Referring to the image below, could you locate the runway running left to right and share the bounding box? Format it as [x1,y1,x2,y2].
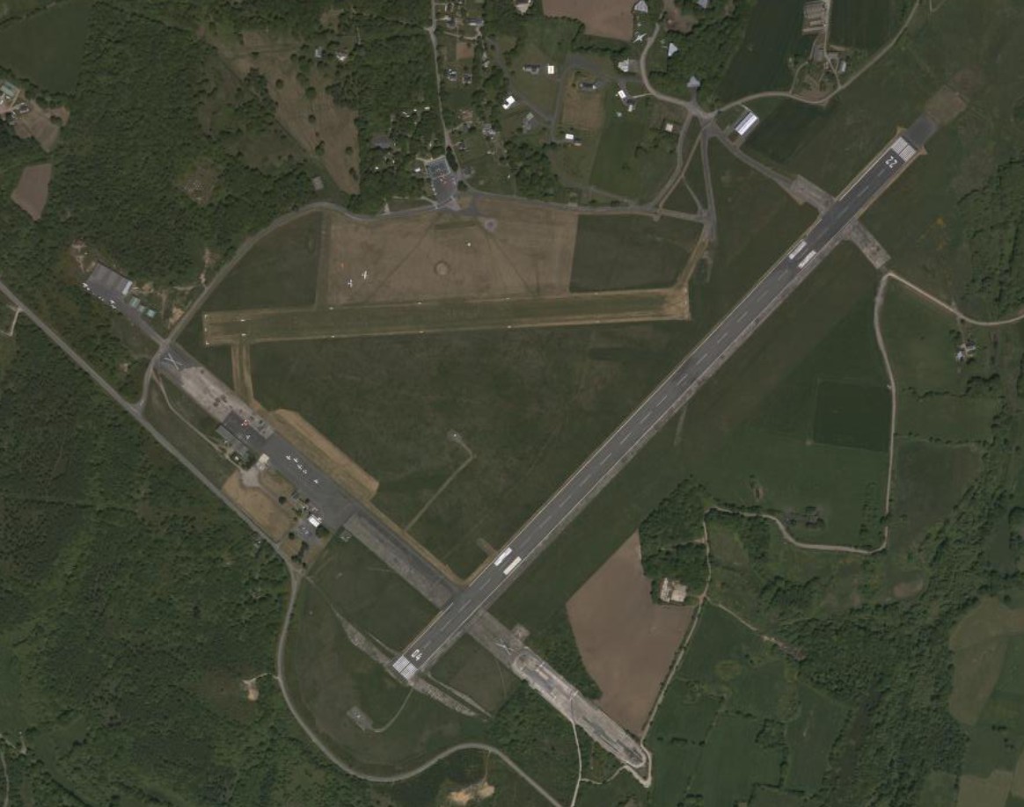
[203,287,691,345]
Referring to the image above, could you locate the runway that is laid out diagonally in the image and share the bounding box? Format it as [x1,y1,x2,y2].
[391,136,917,681]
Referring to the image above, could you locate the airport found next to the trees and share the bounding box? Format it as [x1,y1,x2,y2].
[85,79,967,770]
